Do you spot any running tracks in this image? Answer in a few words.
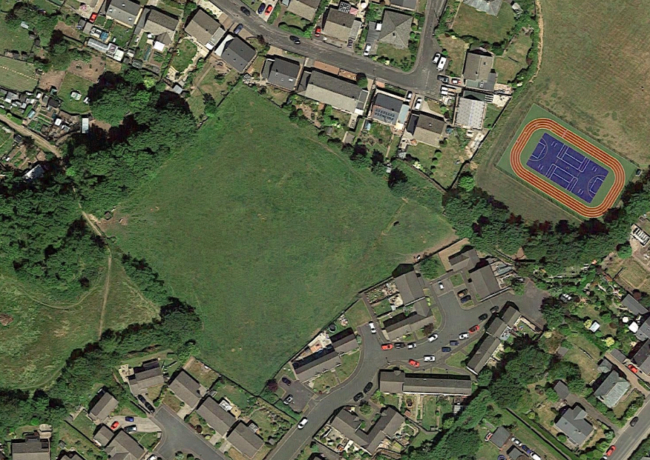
Yes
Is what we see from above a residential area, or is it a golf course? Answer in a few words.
residential area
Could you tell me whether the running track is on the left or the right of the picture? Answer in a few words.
right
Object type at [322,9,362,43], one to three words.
house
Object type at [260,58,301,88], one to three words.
house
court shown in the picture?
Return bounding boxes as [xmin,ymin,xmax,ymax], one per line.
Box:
[526,133,609,202]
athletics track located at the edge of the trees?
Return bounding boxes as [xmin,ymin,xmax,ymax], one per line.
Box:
[496,104,640,228]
